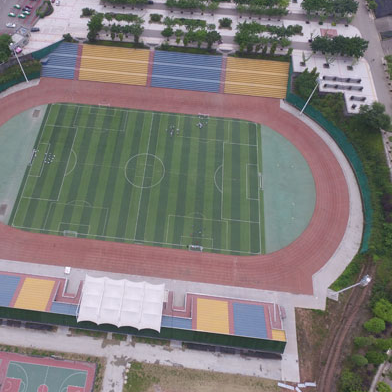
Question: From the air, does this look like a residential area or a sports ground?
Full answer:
It's a sports ground.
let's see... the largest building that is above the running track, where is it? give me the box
[12,28,32,55]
